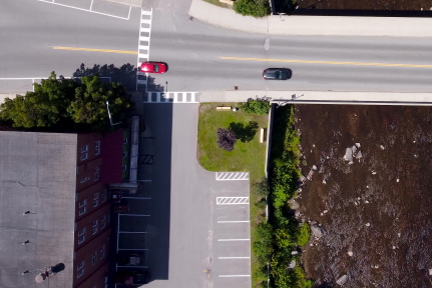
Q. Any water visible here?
Yes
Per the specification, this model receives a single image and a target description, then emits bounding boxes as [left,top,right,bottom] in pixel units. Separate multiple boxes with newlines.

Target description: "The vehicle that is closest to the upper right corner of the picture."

[262,67,291,82]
